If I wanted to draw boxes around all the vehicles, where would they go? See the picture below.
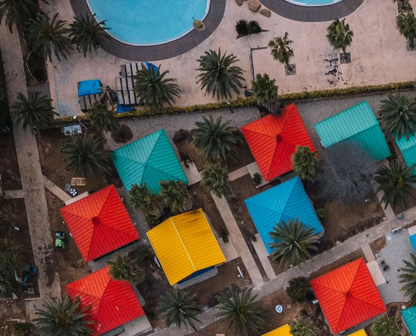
[50,232,65,251]
[20,265,40,291]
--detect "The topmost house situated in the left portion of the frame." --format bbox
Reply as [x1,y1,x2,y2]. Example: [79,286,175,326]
[113,128,191,199]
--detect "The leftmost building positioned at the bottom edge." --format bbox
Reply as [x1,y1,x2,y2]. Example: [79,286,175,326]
[65,261,148,336]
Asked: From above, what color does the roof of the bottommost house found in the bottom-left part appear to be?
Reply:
red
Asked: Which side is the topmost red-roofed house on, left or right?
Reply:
right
